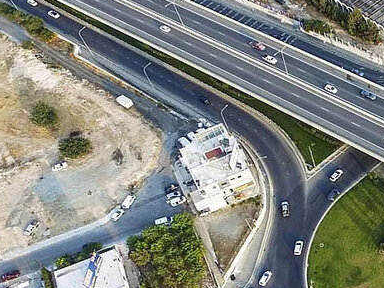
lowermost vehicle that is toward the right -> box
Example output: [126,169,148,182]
[258,270,272,286]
